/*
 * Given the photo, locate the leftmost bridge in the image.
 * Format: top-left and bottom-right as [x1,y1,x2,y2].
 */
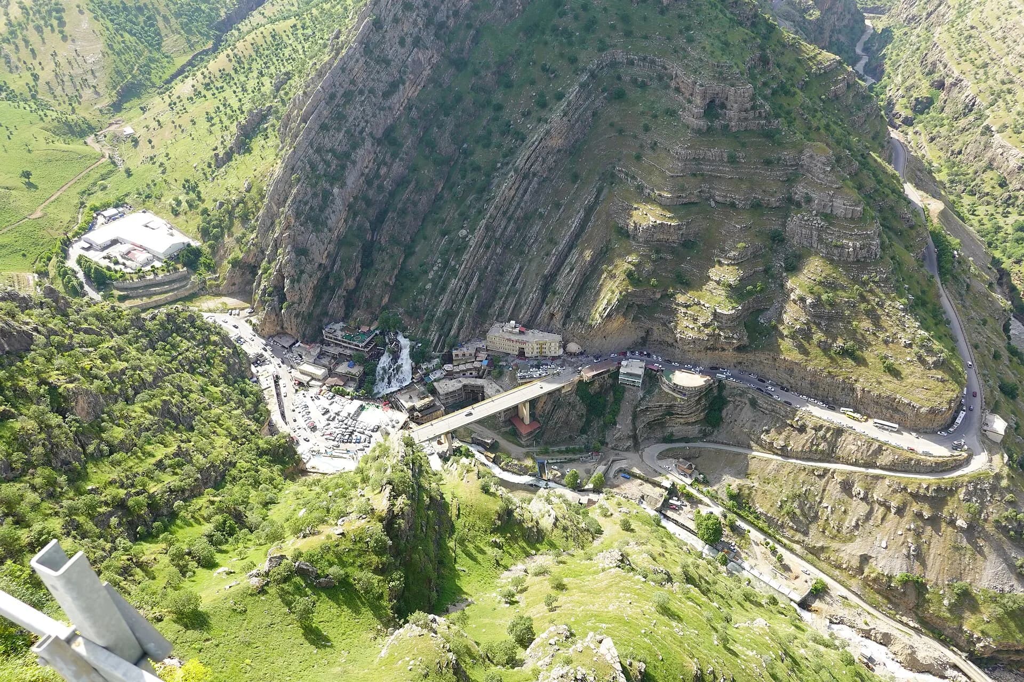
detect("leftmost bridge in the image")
[411,371,584,448]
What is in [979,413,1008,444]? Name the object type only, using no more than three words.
house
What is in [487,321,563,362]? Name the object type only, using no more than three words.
building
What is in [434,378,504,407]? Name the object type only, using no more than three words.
building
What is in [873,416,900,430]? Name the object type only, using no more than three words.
vehicle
